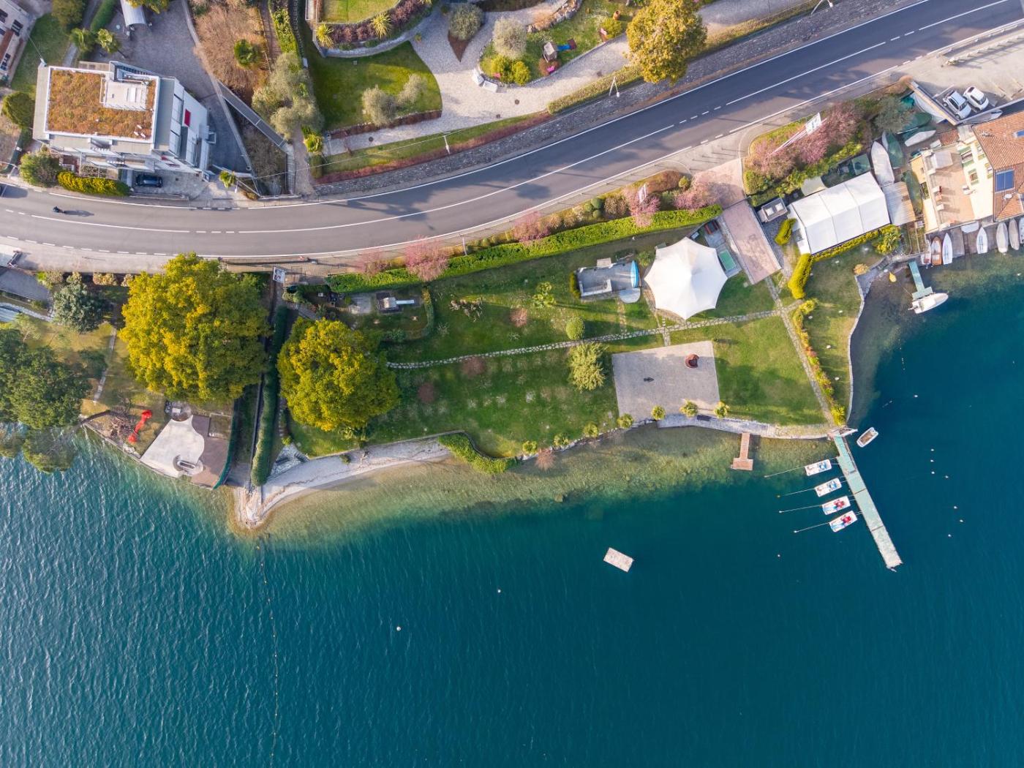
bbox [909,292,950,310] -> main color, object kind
white boat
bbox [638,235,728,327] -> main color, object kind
white tent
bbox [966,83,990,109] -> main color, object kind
white car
